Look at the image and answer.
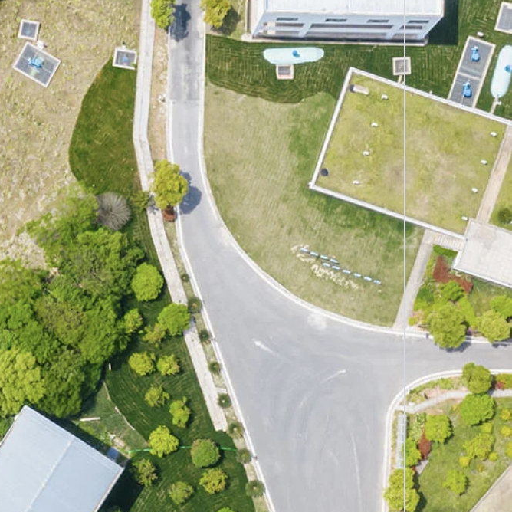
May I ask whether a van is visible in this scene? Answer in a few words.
No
